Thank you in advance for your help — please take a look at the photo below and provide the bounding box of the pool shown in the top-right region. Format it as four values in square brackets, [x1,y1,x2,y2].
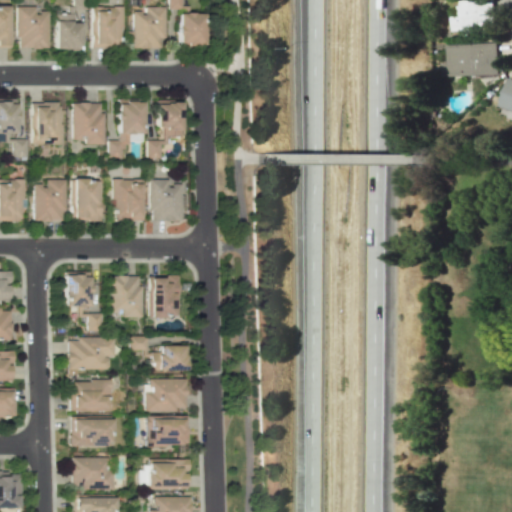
[450,92,472,112]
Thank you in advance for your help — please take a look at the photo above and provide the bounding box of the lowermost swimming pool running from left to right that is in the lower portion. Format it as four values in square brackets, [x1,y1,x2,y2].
[157,319,184,332]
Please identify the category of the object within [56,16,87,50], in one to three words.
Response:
house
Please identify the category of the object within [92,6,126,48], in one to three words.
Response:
house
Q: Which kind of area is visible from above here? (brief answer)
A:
residential area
